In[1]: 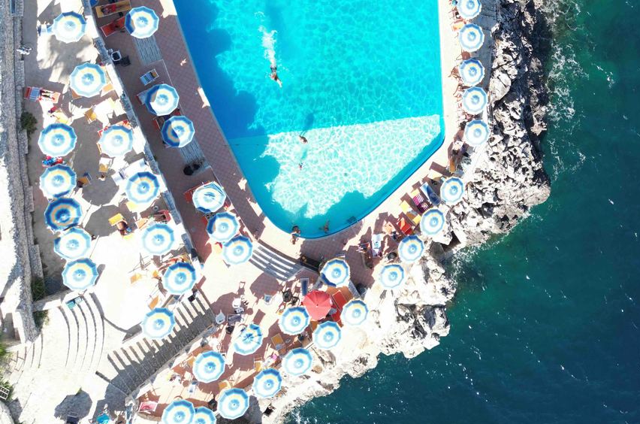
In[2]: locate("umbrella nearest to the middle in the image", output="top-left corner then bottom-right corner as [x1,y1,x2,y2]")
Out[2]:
[319,256,346,285]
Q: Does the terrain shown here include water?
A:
Yes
